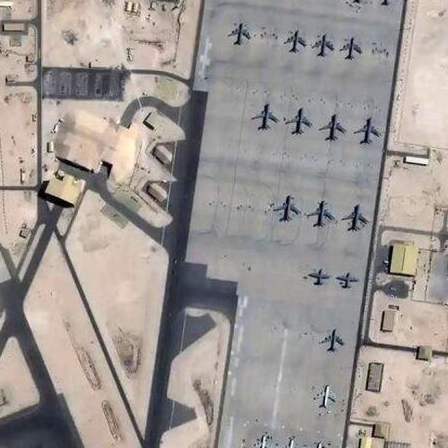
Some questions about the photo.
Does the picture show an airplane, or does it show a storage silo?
airplane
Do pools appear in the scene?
No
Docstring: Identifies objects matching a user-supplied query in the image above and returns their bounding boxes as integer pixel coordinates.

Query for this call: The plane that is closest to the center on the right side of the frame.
[274,195,299,222]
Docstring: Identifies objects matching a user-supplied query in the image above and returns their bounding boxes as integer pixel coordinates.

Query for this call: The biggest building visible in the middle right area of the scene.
[389,245,418,276]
